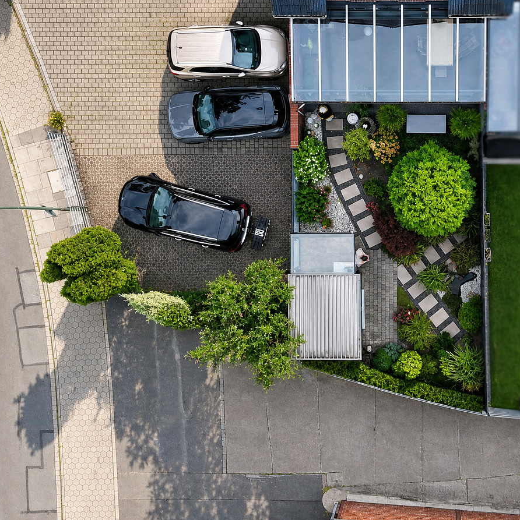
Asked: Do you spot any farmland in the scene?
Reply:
No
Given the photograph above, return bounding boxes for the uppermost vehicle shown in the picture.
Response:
[170,14,287,78]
